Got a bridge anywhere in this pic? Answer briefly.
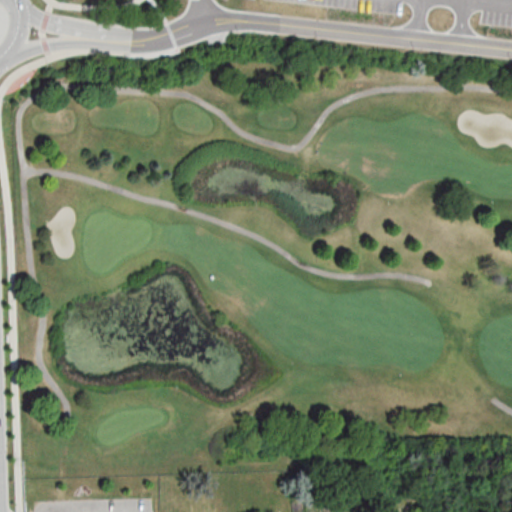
No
